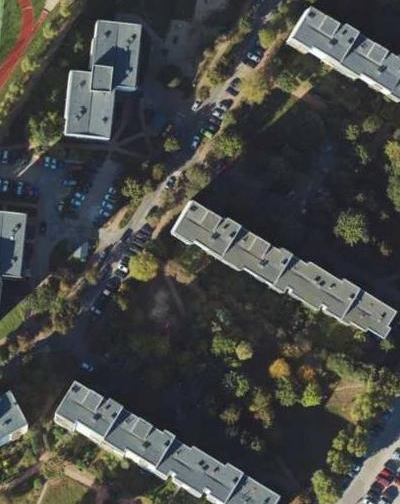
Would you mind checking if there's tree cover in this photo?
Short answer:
Yes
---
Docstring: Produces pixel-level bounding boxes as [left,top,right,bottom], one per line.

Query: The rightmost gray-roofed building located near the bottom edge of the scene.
[56,382,283,504]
